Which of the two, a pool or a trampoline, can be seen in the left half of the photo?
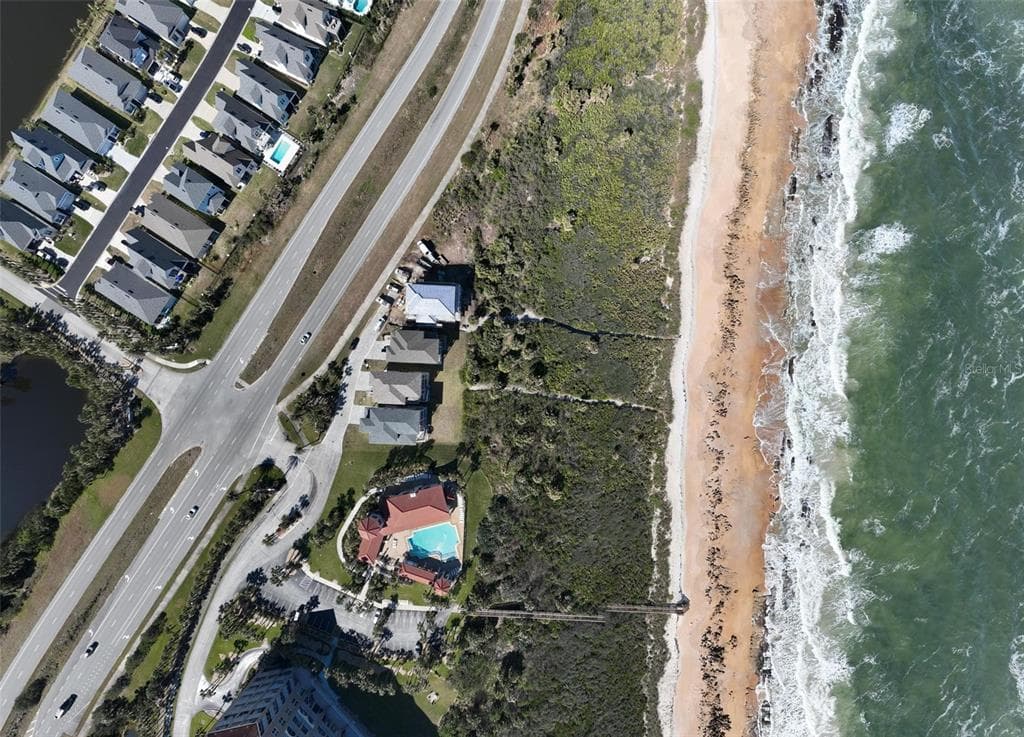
pool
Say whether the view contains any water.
Yes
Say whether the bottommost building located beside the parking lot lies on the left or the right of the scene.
left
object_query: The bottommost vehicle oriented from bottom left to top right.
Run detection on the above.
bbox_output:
[55,697,73,718]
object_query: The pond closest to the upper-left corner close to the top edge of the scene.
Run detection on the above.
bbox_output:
[0,0,90,150]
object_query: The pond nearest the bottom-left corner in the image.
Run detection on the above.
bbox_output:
[0,355,86,536]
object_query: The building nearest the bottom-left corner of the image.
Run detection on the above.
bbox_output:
[203,670,357,737]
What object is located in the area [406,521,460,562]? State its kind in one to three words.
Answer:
swimming pool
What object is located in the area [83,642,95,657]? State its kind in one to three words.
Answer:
vehicle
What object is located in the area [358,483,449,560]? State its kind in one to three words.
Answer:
building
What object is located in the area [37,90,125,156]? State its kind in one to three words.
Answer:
house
